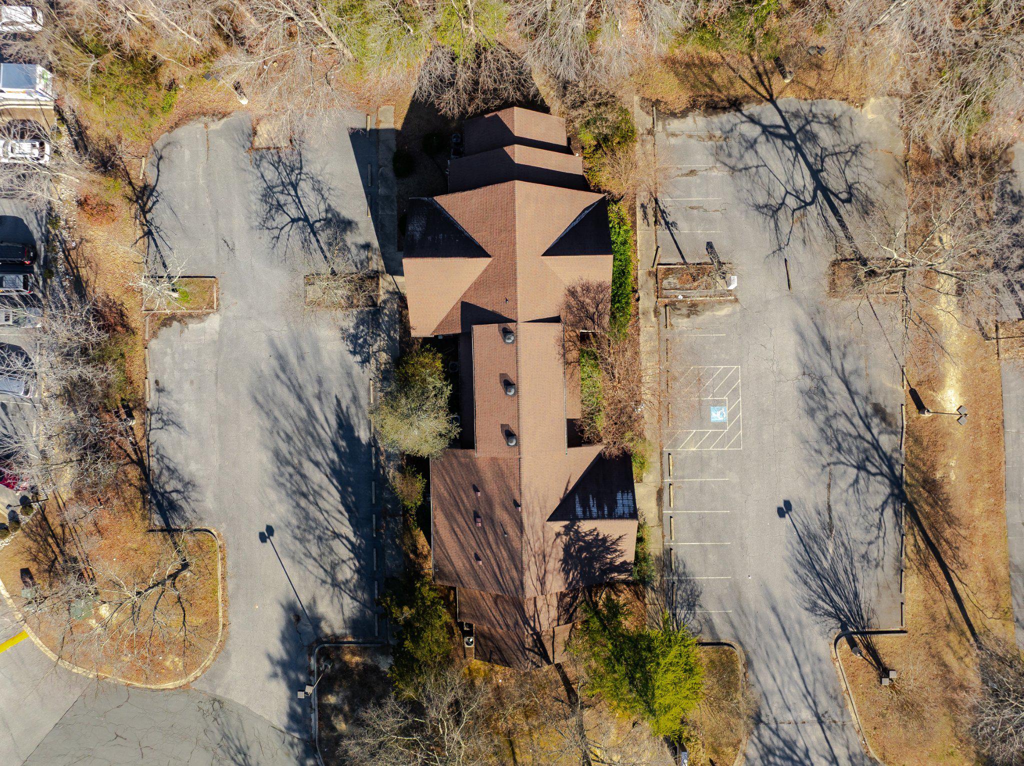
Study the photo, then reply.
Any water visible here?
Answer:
No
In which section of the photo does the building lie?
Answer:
center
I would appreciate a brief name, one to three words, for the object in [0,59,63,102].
truck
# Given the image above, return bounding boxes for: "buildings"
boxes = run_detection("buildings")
[404,107,638,670]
